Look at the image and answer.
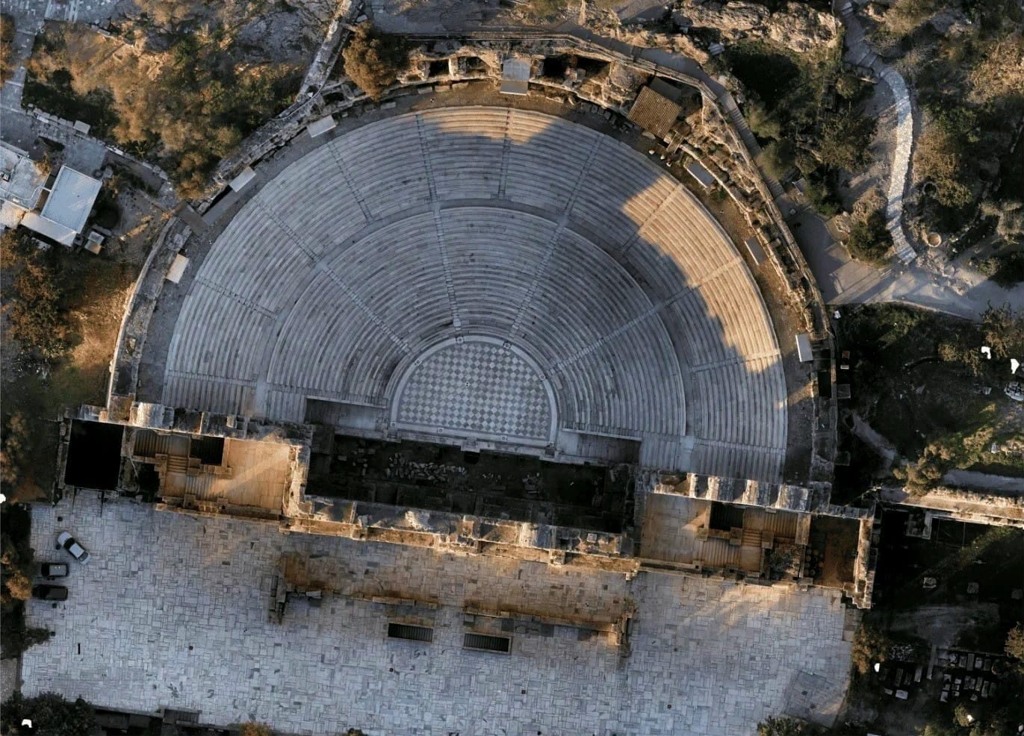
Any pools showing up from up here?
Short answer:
No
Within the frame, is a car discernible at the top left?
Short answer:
No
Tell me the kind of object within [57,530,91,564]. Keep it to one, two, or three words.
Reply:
car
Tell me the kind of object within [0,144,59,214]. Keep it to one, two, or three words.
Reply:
house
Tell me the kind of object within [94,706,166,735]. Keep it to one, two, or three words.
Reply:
shed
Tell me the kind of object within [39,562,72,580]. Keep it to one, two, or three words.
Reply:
car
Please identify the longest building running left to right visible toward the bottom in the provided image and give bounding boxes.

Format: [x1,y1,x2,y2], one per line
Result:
[53,404,878,610]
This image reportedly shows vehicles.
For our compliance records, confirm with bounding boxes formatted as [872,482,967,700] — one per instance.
[32,584,70,603]
[57,530,91,564]
[39,562,72,580]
